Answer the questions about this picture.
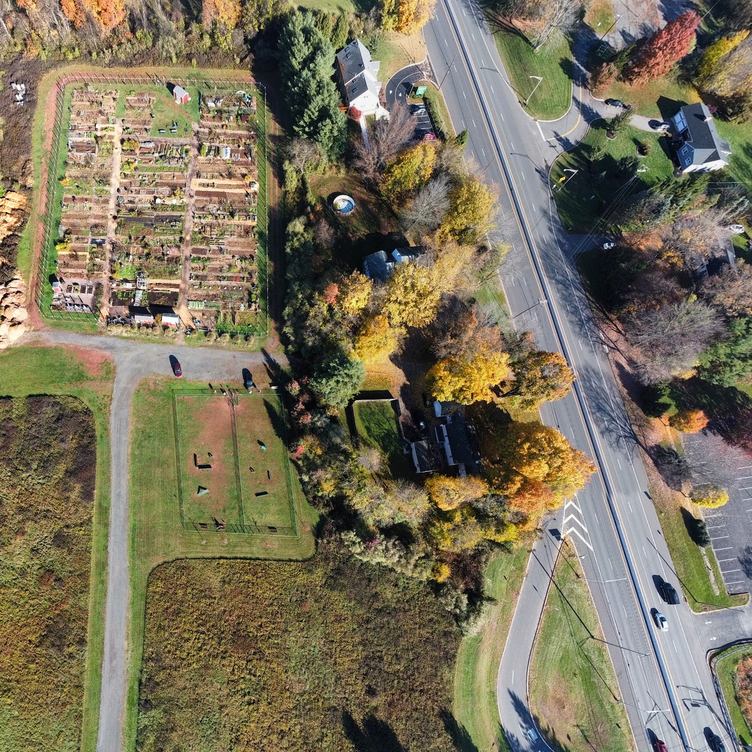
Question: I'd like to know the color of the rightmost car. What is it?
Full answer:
From above, the rightmost car appears black.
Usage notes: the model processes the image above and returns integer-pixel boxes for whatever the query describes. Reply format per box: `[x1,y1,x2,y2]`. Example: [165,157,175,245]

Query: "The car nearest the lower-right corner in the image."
[708,730,729,752]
